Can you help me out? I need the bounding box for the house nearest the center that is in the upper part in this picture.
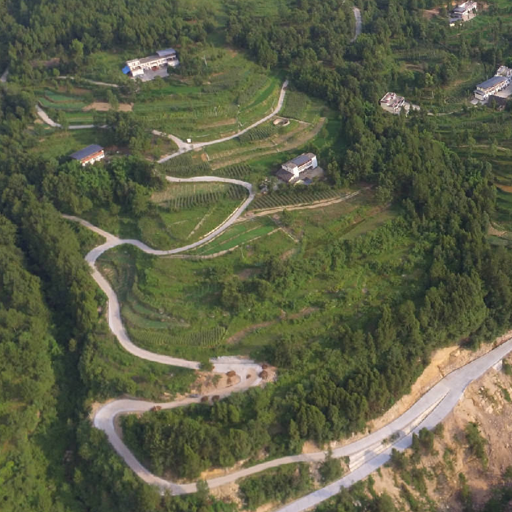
[268,150,315,187]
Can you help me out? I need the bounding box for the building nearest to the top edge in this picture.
[446,2,475,24]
